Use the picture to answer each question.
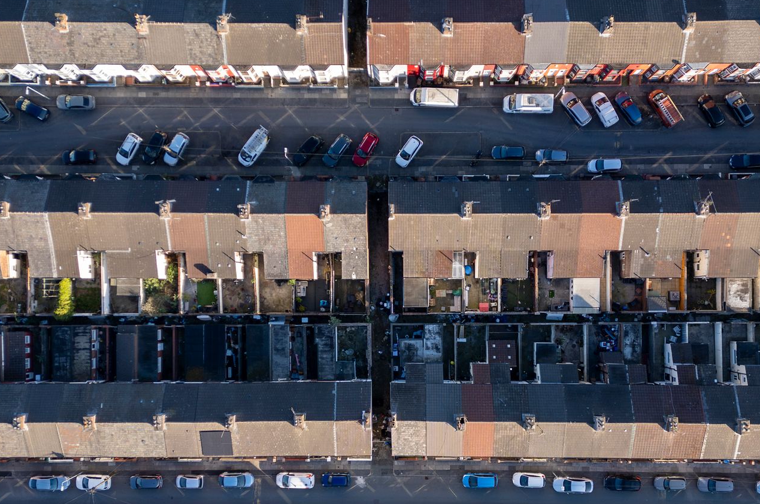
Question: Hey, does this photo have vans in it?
Yes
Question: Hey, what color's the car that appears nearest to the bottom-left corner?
blue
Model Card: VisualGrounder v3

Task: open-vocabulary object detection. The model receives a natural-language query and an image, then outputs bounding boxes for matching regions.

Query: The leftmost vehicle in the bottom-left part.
[27,474,71,494]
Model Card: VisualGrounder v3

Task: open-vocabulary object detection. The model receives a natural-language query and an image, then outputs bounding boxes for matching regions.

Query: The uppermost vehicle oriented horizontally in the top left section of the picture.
[56,93,97,111]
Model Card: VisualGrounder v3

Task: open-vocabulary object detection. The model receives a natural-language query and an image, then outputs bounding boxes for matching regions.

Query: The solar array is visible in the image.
[200,431,232,456]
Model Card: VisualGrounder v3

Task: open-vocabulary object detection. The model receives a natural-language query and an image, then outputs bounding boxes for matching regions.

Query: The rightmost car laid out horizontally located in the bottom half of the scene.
[696,476,736,495]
